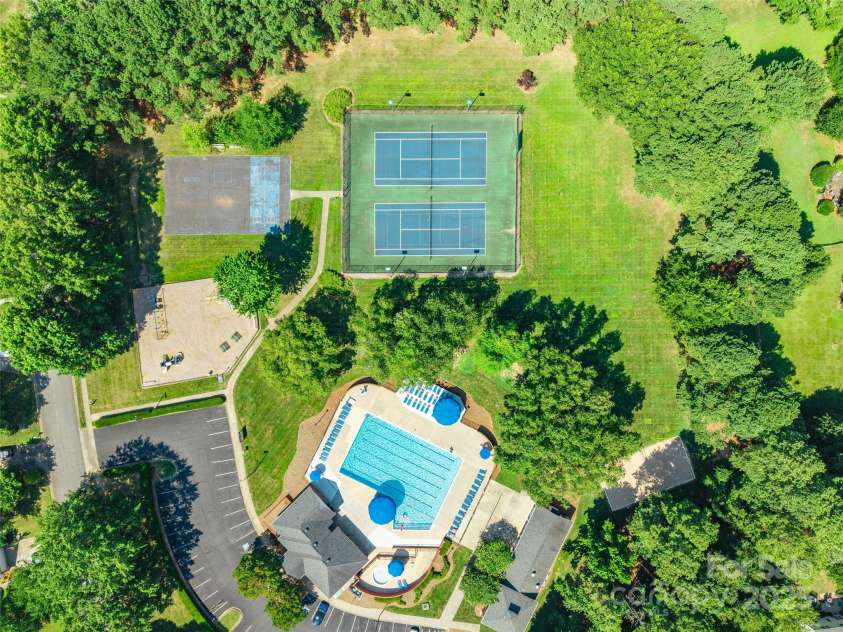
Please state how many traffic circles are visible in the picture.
0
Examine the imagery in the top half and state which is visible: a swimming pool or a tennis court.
tennis court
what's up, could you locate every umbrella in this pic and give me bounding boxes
[479,447,491,458]
[388,559,404,575]
[368,495,396,523]
[310,469,321,480]
[432,396,461,425]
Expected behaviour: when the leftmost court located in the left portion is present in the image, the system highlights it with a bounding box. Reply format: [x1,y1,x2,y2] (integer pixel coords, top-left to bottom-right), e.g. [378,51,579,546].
[165,155,291,235]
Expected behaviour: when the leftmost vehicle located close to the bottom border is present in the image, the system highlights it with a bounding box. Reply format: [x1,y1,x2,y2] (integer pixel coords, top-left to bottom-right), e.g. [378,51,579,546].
[312,602,328,626]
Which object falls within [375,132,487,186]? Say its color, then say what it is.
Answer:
blue tennis court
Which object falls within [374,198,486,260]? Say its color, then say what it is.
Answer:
blue tennis court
